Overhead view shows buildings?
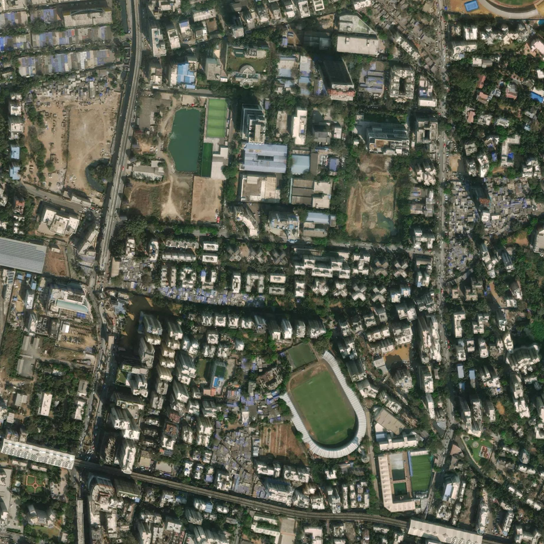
Yes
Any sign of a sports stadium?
Yes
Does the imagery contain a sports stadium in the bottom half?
Yes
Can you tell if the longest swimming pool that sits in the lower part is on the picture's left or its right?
right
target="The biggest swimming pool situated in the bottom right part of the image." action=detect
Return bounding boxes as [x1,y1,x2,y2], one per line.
[389,452,412,498]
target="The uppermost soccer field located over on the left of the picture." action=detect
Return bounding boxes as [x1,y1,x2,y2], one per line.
[206,94,229,138]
